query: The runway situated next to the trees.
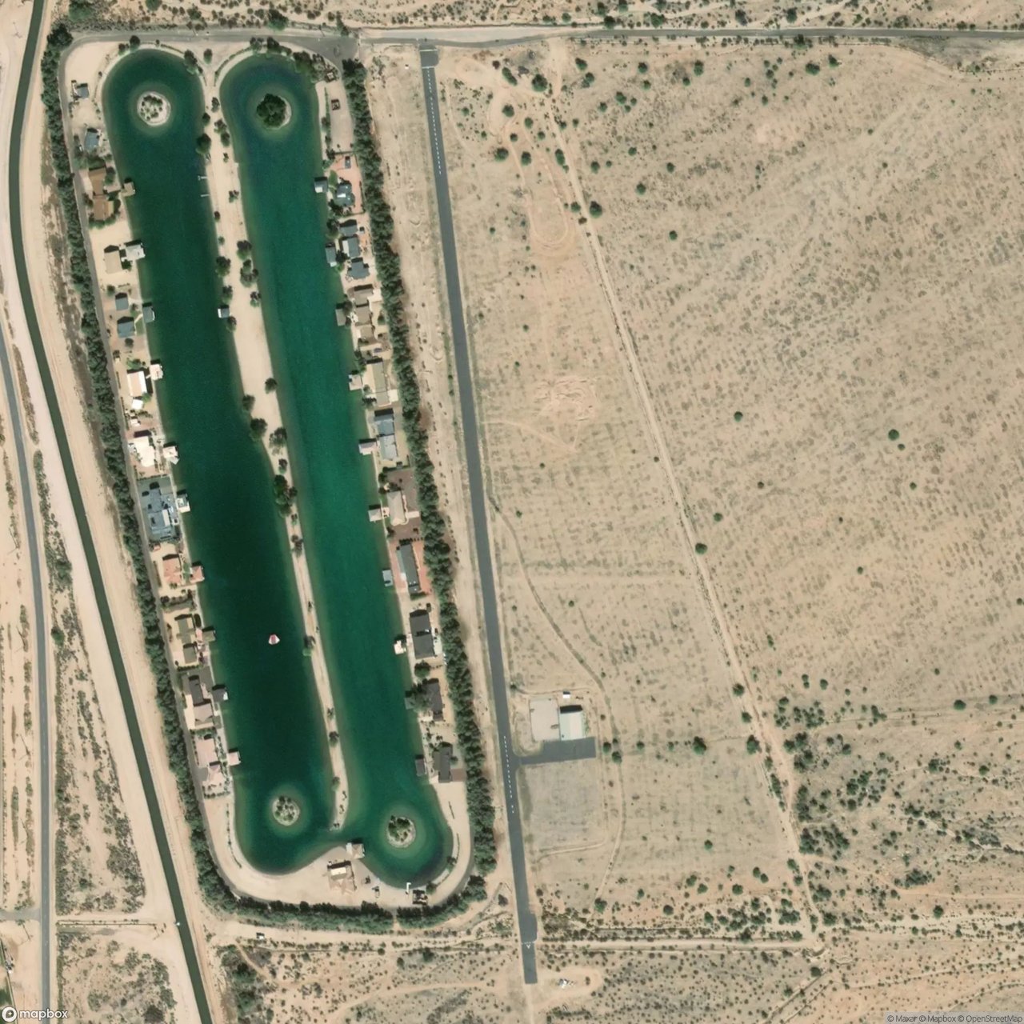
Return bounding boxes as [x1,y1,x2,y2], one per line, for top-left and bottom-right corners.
[419,40,596,984]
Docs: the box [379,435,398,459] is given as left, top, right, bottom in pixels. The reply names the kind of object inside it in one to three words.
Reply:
house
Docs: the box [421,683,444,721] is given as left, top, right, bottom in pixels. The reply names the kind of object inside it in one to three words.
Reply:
house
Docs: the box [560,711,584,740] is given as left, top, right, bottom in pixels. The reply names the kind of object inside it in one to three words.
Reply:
hangar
